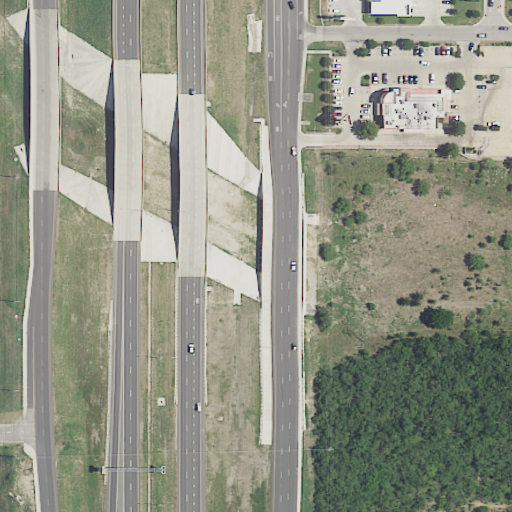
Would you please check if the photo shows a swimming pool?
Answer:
No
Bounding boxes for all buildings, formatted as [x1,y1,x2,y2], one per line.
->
[380,86,452,132]
[362,0,412,15]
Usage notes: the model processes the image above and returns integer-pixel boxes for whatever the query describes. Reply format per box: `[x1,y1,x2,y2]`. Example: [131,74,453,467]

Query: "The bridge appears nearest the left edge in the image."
[30,9,60,190]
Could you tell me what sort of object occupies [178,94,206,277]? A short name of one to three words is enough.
bridge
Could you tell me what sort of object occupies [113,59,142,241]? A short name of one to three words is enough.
bridge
